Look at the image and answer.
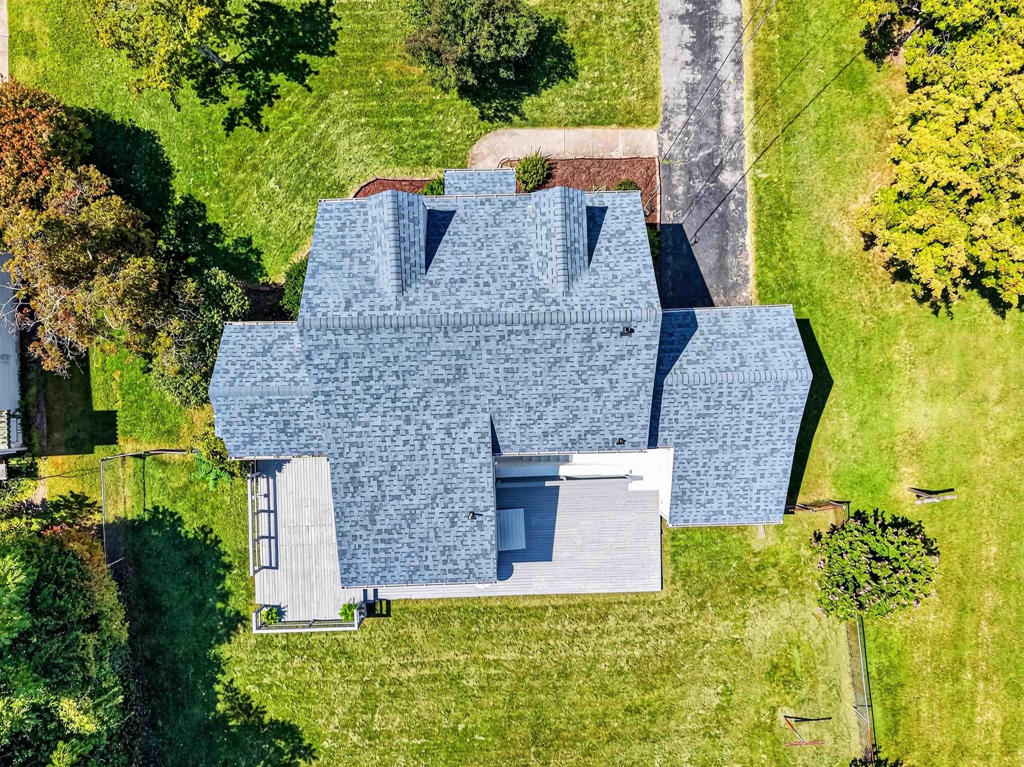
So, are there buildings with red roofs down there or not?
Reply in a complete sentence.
No, the frame has no building with a red roof in it.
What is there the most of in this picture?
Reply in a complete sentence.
The scene is dominated by grass.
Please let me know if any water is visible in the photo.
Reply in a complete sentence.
No, no water is visible.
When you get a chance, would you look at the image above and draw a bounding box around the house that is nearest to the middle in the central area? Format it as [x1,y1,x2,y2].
[209,167,813,586]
